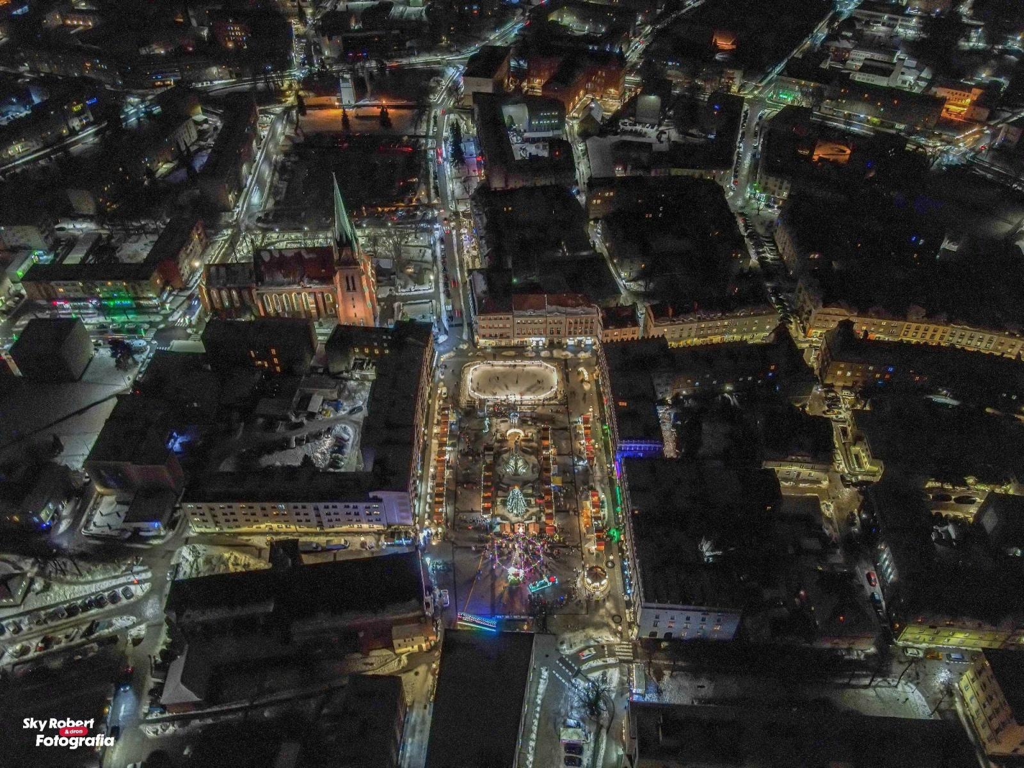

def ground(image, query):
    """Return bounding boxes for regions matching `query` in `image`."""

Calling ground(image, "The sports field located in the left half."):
[298,108,425,136]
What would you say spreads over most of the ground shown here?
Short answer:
buildings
